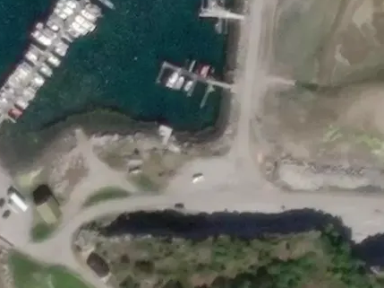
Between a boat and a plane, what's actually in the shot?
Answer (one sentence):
Of the two, only a boat appears.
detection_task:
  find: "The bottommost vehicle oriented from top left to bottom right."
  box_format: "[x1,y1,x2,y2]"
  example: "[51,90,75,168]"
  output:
[7,191,27,212]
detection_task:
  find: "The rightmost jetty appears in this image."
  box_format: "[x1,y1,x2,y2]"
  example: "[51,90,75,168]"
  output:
[199,0,238,35]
